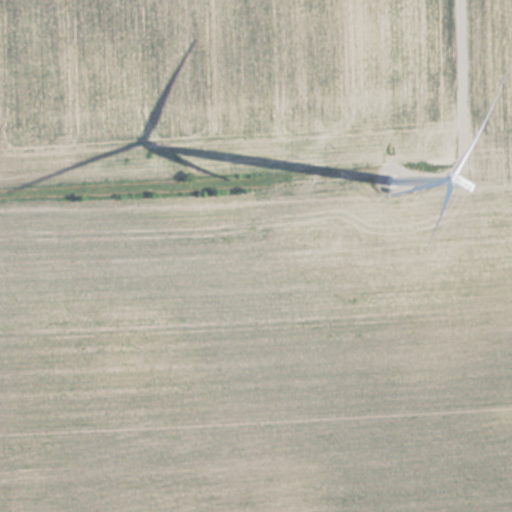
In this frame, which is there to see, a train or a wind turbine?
wind turbine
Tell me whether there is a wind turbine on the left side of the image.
No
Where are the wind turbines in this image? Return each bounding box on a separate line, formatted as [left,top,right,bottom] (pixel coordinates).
[383,77,506,240]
